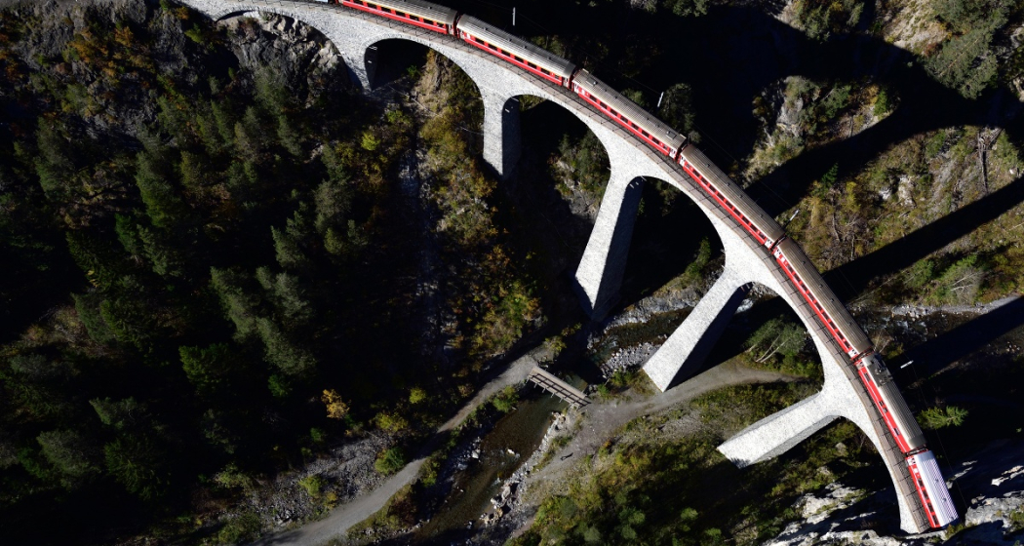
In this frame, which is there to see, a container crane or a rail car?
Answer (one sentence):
The one in the frame is a rail car.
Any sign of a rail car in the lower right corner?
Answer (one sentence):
Yes, a rail car shows up in the lower right corner.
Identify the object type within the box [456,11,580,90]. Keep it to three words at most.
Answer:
rail car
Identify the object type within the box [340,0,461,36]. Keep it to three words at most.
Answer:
rail car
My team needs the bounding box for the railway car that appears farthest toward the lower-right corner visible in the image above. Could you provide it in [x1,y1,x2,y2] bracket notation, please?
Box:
[904,452,960,532]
